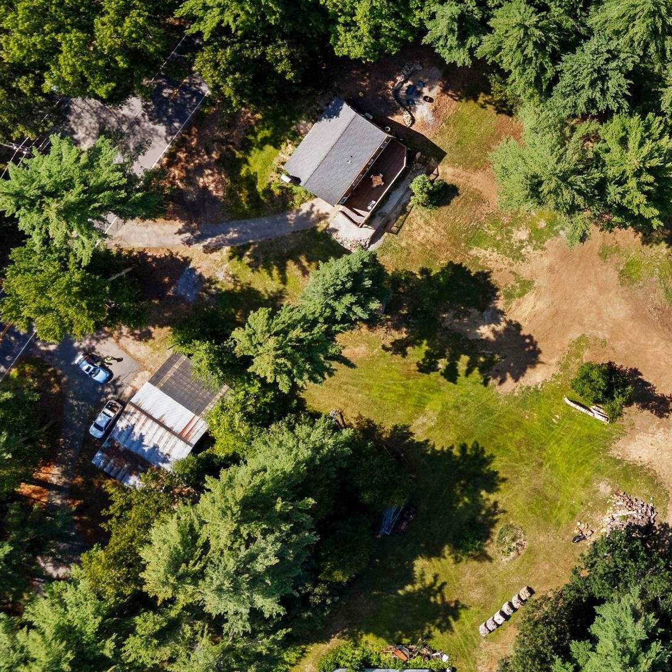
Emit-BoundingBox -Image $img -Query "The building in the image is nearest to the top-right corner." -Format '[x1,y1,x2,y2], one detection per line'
[285,96,412,228]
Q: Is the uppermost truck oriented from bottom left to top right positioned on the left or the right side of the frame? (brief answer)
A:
left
